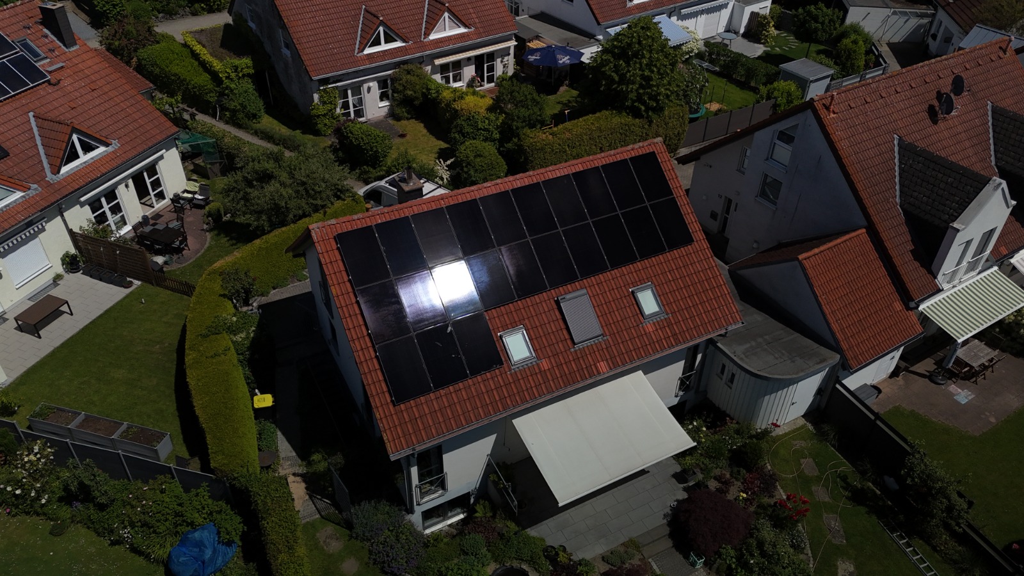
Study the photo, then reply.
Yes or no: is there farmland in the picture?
No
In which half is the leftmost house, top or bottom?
top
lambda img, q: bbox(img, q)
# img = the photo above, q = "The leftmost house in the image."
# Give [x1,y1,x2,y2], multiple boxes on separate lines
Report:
[0,0,194,311]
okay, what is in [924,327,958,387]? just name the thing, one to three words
umbrella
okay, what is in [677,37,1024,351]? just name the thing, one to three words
house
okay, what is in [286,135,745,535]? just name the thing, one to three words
house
